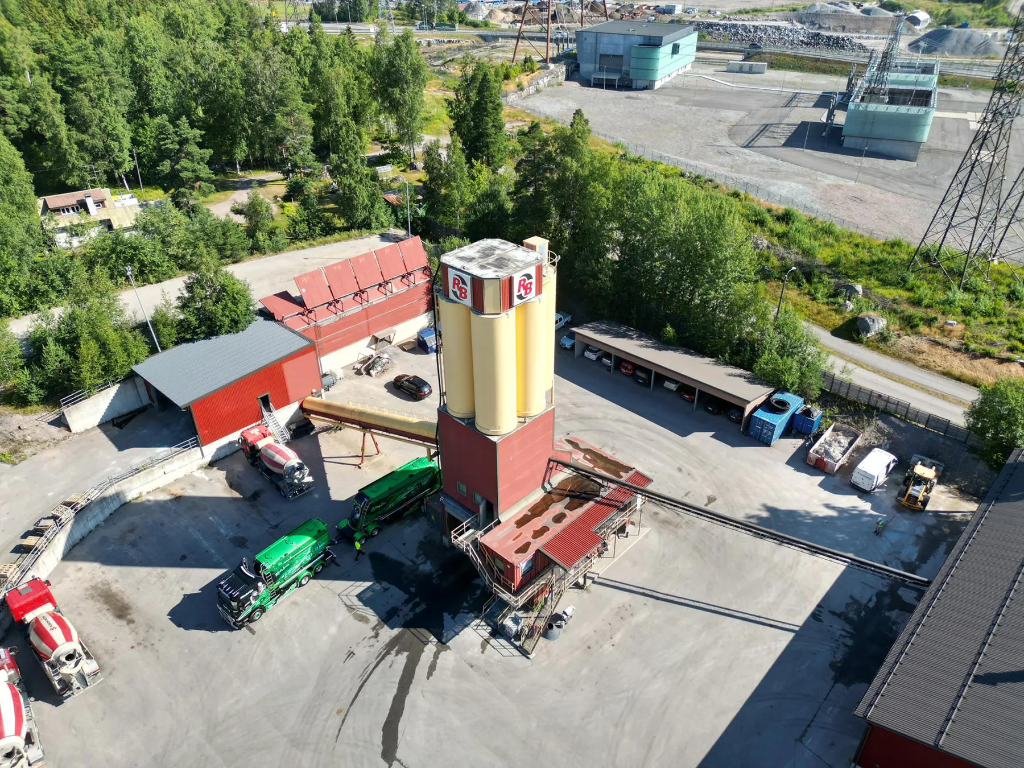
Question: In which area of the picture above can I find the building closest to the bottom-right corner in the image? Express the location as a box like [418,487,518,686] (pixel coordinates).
[847,444,1024,768]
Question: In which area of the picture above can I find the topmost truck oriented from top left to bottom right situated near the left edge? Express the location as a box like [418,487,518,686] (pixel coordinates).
[1,580,106,706]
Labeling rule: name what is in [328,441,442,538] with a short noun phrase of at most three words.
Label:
trailer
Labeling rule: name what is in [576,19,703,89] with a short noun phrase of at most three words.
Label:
building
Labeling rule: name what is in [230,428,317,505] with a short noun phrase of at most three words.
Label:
truck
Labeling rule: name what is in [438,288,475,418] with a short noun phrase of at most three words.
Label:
silo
